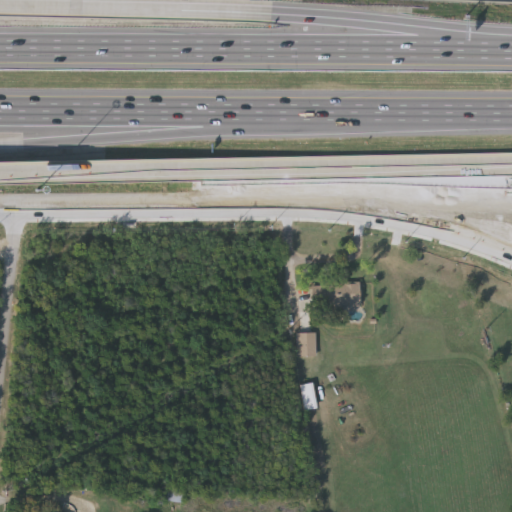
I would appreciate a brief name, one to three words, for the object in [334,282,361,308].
house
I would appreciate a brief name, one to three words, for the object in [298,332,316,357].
barn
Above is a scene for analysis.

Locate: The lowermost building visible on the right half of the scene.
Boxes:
[300,382,318,410]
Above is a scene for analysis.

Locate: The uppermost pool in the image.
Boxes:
[350,308,366,323]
